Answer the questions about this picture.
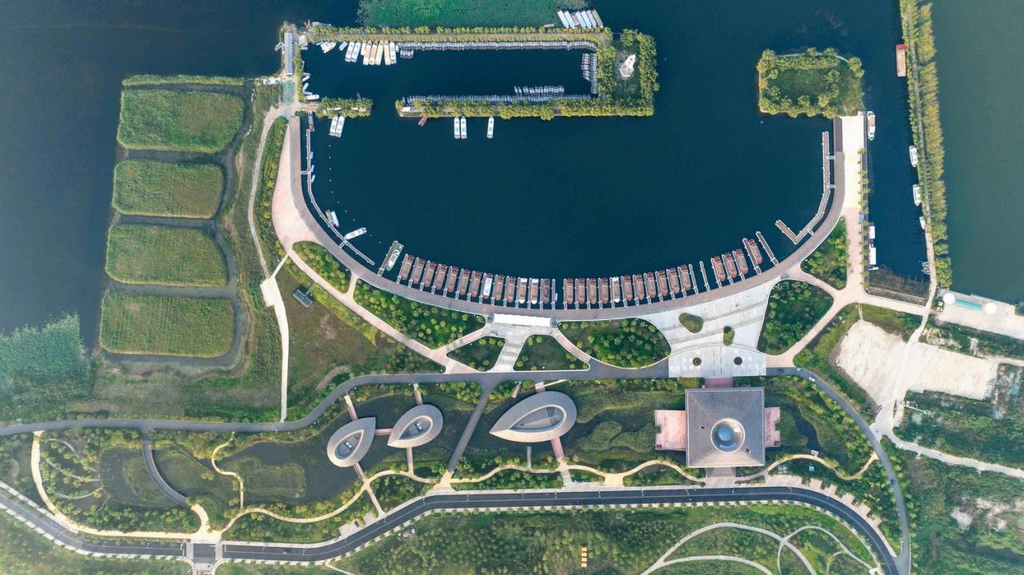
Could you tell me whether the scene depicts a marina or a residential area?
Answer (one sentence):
It's a marina.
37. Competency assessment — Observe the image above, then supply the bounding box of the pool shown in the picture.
[955,299,983,311]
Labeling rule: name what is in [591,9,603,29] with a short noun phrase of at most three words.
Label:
boat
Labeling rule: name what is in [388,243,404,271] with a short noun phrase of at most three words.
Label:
boat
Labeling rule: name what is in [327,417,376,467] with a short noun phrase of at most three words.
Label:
building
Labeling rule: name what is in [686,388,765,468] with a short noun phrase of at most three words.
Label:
building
